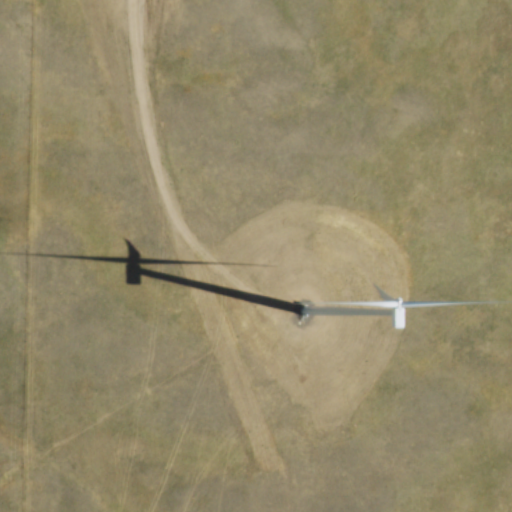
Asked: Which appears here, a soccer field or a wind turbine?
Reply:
wind turbine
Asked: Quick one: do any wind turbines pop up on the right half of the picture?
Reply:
Yes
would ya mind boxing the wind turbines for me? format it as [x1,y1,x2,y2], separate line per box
[296,282,498,328]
